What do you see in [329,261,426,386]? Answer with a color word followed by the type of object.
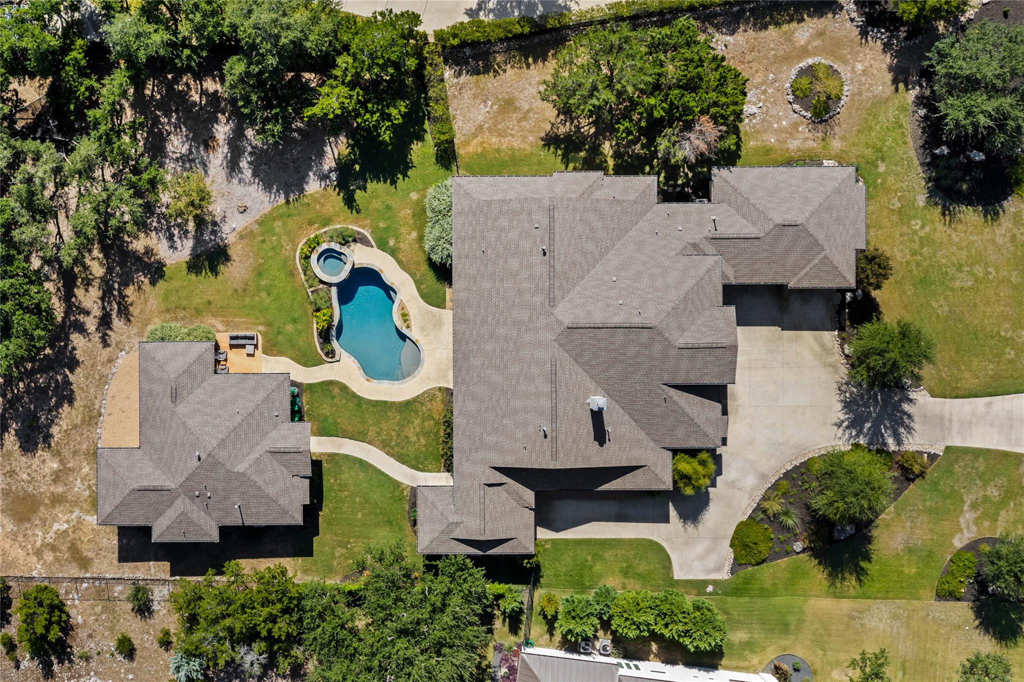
blue swimming pool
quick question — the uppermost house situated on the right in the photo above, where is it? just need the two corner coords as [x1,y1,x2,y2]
[416,164,867,556]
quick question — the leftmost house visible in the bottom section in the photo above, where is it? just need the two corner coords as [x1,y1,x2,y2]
[95,341,312,544]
